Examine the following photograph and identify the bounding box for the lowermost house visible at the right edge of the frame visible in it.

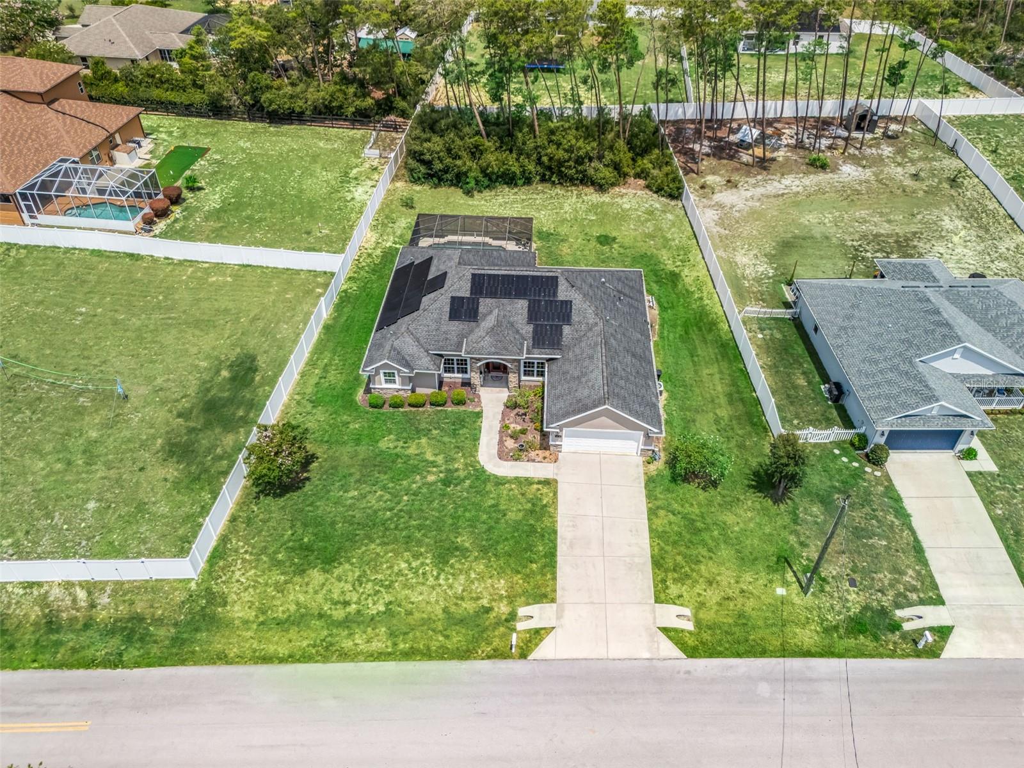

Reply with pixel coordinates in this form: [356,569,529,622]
[795,257,1024,459]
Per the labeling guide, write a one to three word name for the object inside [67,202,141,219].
swimming pool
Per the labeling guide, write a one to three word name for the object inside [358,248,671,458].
house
